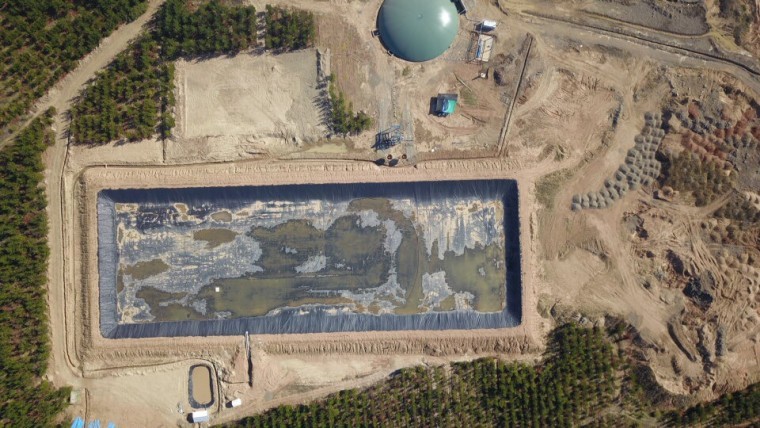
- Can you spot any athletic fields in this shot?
No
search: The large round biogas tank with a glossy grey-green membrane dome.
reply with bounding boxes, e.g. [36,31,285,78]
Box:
[372,0,460,63]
